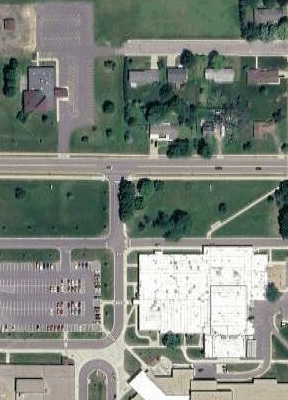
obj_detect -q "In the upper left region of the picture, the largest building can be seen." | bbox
[24,66,69,113]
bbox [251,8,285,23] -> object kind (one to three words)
house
